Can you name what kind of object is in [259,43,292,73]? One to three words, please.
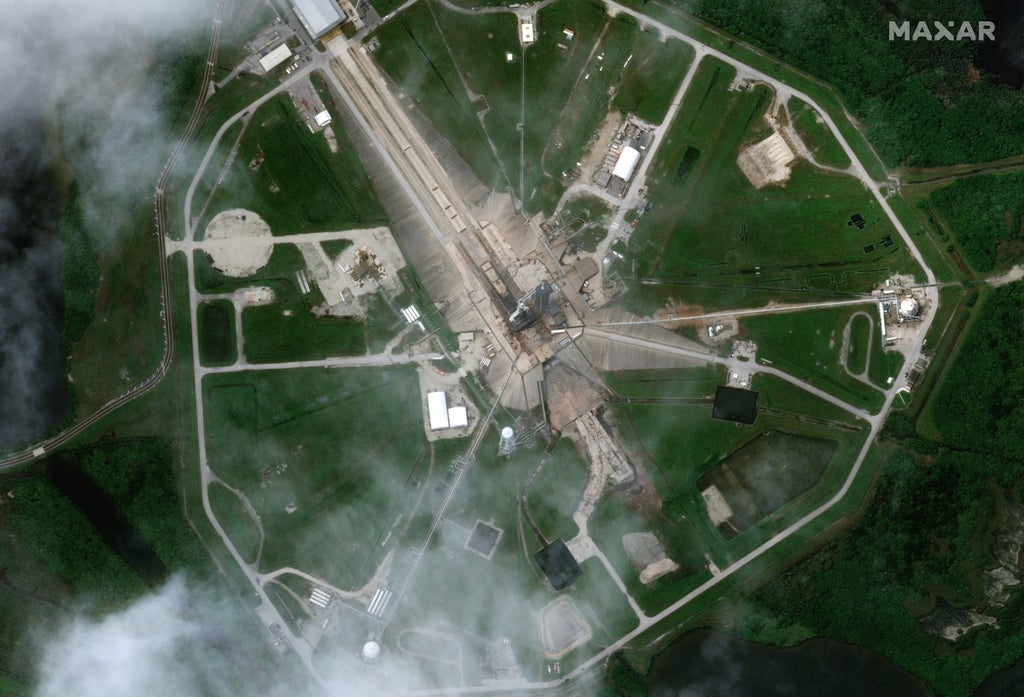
building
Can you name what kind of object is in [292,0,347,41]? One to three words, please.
hangar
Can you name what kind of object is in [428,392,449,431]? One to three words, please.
tent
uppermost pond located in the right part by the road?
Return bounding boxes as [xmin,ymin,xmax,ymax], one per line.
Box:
[701,435,836,537]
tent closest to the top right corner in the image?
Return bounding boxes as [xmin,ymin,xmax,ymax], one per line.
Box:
[613,147,640,181]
